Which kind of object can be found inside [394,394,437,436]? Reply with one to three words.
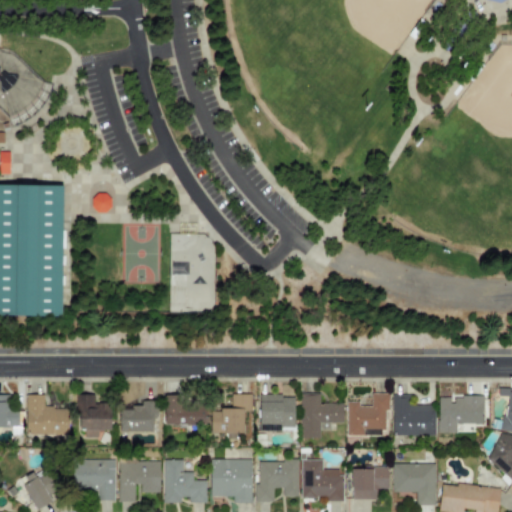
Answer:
house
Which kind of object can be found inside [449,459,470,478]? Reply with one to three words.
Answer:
swimming pool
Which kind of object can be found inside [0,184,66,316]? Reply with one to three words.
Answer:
building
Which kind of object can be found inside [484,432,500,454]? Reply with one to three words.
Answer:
swimming pool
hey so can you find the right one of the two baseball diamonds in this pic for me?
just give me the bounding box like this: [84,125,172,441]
[341,44,512,256]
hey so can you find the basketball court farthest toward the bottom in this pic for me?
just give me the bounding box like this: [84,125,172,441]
[124,224,161,283]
